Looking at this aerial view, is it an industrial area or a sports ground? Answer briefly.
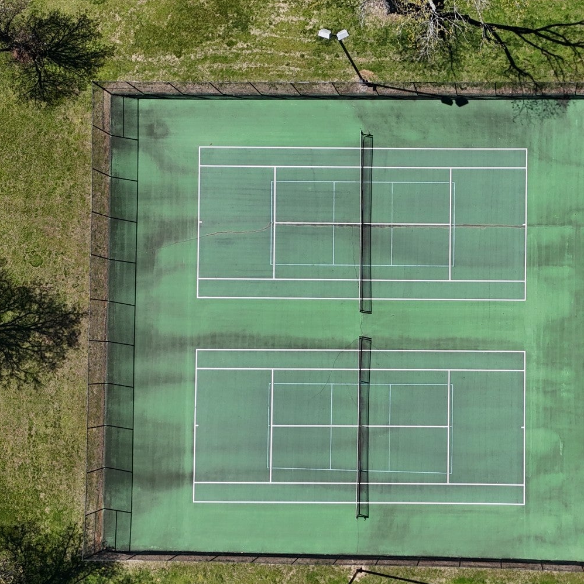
sports ground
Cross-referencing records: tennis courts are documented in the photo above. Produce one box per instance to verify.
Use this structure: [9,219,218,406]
[197,146,528,301]
[193,344,525,504]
